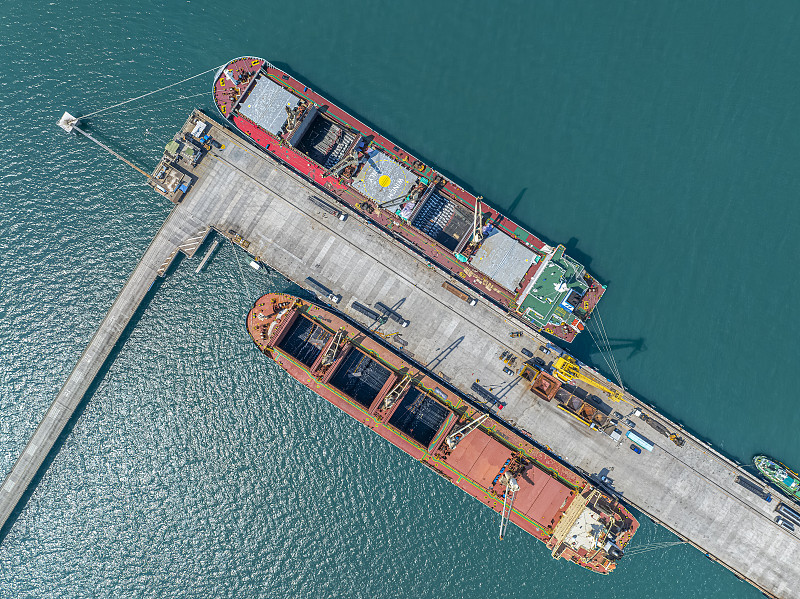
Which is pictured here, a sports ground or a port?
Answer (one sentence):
This looks like a port.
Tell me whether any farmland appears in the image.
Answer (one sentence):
No, there is no farmland in the image.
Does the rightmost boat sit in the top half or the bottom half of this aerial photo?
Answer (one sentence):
The rightmost boat sits in the bottom half of the picture.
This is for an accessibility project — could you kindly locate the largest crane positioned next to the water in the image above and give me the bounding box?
[542,347,626,403]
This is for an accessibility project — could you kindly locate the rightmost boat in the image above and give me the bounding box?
[752,455,800,505]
